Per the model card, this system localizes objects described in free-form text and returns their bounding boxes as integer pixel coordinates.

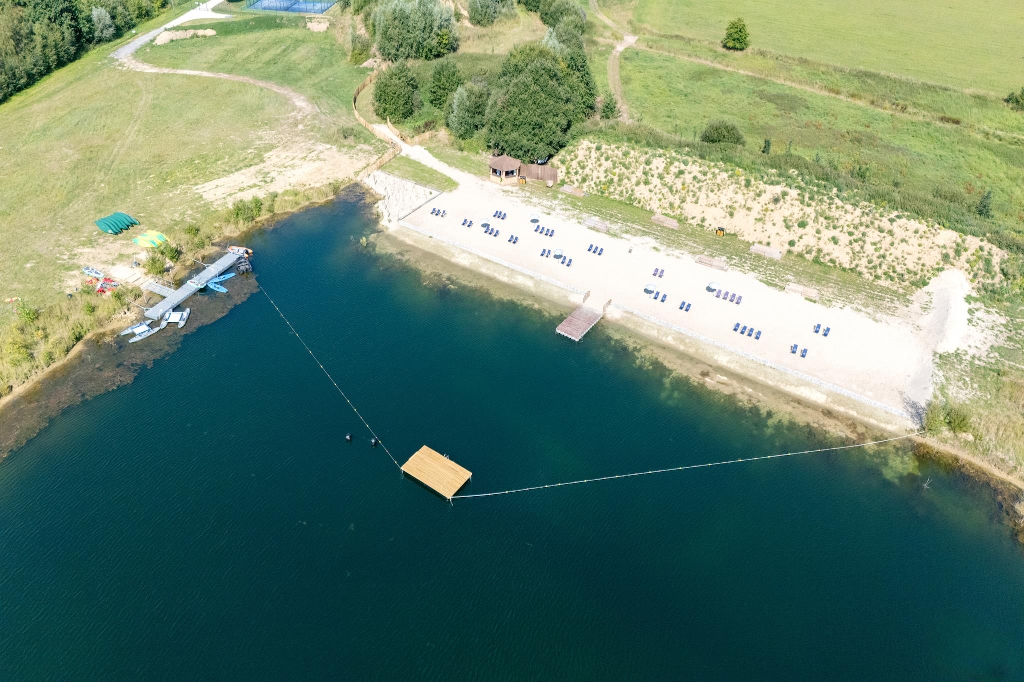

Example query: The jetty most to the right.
[555,306,602,345]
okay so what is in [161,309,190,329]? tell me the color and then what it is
white boat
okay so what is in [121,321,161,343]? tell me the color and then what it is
white boat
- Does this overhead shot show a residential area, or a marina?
marina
